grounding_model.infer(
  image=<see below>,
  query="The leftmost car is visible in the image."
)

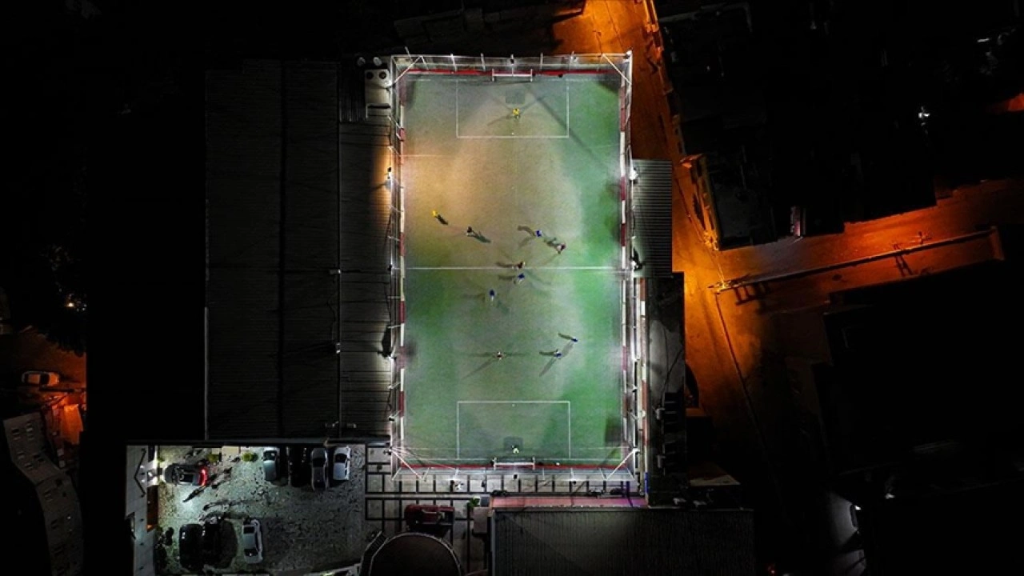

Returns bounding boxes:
[17,369,59,388]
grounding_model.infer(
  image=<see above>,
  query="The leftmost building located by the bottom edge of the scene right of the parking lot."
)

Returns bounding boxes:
[360,526,465,576]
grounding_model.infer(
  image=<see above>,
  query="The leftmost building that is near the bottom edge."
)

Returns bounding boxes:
[0,412,83,576]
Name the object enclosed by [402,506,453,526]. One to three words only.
vehicle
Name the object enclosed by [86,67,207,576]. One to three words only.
building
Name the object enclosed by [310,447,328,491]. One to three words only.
car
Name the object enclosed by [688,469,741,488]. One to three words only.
shed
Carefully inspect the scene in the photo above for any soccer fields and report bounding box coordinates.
[402,76,625,462]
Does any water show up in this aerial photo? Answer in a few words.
No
